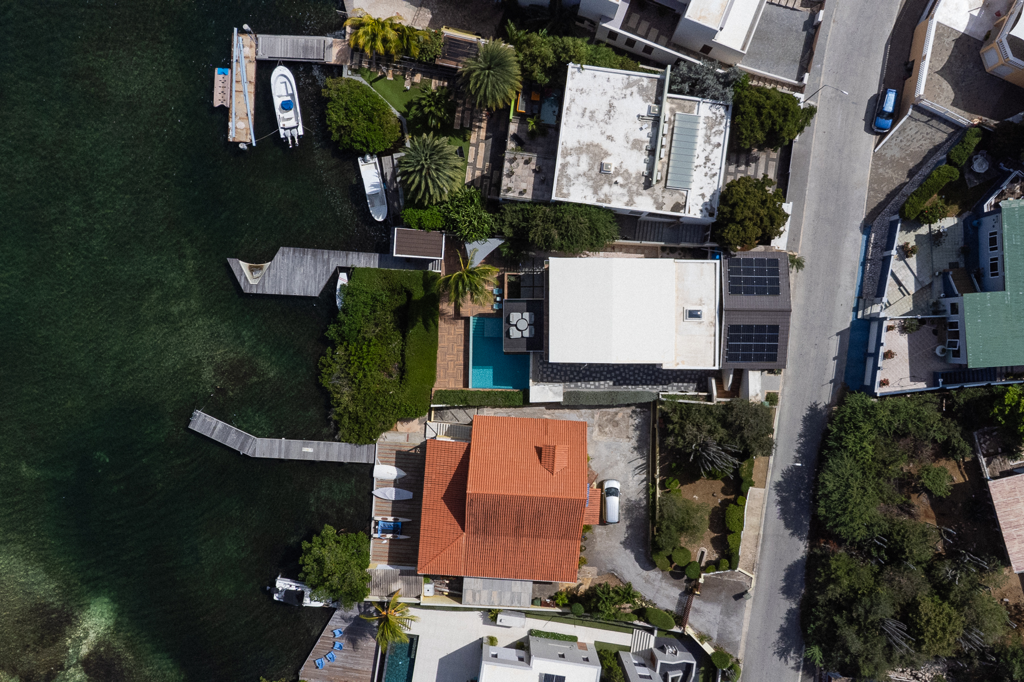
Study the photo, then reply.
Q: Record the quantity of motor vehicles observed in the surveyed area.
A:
two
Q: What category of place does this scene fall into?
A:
residential area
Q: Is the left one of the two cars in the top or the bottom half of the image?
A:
bottom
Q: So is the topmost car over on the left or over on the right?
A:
right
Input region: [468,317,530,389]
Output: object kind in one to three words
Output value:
swimming pool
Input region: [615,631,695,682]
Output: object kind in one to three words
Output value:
house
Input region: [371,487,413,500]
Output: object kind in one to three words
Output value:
boat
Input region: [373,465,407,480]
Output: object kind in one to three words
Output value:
boat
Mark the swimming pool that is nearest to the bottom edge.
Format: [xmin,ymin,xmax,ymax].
[386,634,420,682]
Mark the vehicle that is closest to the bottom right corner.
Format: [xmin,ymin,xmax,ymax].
[601,479,623,525]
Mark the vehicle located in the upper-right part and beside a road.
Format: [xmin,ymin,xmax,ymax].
[868,84,902,135]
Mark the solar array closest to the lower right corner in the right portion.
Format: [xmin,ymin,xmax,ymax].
[726,325,780,362]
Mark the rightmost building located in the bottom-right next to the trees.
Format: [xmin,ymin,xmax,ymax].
[977,467,1024,573]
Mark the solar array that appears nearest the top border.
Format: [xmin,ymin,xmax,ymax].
[727,258,781,295]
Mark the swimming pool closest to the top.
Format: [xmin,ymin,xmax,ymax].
[540,93,559,126]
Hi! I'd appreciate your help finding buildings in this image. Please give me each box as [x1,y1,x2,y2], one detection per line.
[824,669,853,682]
[575,0,767,84]
[551,63,732,226]
[984,0,1024,81]
[544,257,720,369]
[418,415,600,584]
[937,199,1024,368]
[392,227,446,261]
[482,635,601,682]
[977,467,1024,573]
[615,631,695,682]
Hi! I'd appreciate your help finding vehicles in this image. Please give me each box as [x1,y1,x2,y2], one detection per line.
[868,84,902,135]
[601,479,623,525]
